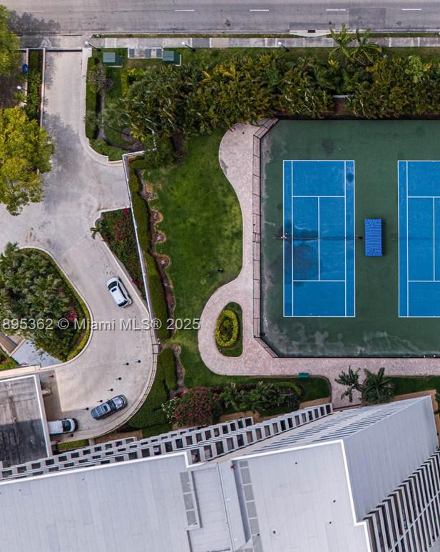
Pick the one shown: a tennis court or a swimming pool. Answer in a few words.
tennis court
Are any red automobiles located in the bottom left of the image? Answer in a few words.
No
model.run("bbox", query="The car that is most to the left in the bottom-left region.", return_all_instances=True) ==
[48,418,76,434]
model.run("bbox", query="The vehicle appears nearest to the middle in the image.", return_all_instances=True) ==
[109,278,133,308]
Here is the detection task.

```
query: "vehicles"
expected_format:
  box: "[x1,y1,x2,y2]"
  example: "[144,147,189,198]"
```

[48,418,76,434]
[92,396,126,418]
[109,278,133,308]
